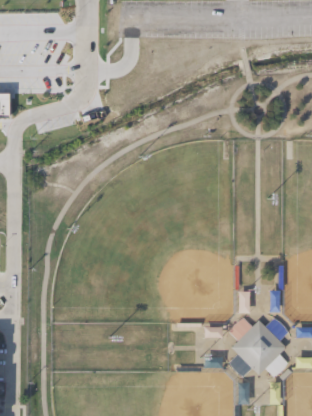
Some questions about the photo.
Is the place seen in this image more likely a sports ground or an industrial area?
sports ground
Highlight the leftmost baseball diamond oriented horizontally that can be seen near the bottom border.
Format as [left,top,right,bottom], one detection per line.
[52,372,235,416]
